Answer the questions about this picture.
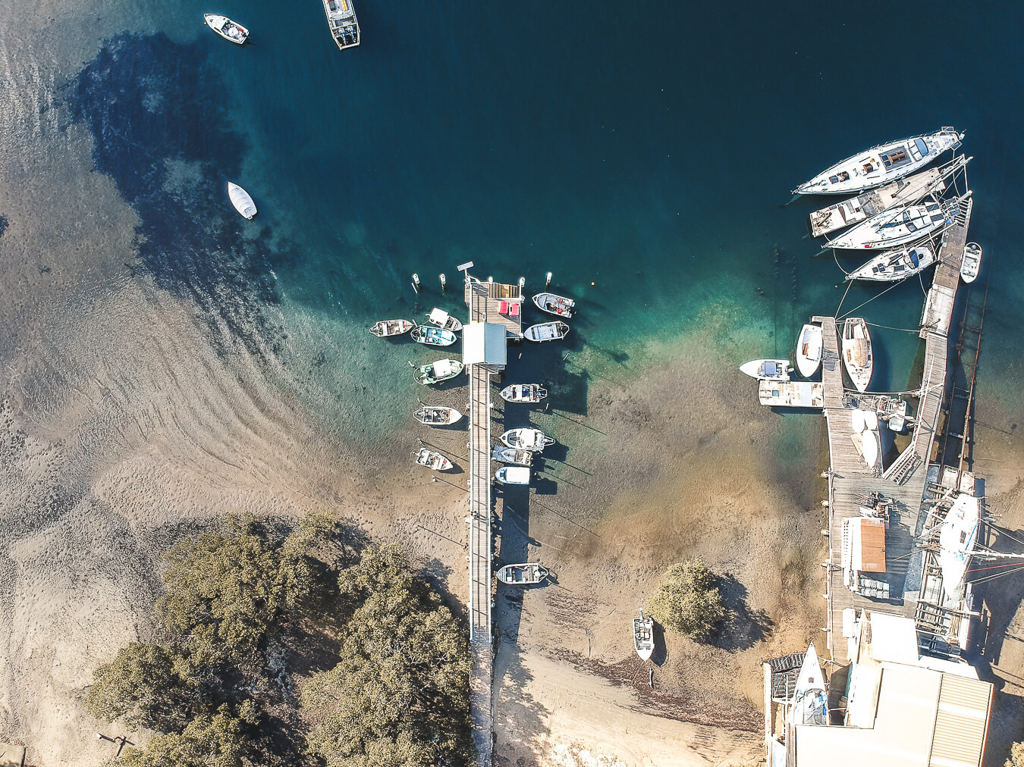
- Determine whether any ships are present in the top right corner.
Yes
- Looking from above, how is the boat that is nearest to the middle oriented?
from side to side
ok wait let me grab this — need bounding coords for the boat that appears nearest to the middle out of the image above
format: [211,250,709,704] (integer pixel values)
[500,384,553,404]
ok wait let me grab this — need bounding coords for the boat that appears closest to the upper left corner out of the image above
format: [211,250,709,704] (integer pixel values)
[204,12,254,48]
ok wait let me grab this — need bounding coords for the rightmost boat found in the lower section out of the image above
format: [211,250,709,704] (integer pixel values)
[933,491,1024,603]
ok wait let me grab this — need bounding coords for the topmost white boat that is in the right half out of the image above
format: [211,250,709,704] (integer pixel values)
[792,120,973,196]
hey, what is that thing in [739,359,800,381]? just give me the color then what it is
white boat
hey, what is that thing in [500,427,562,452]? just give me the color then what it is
white boat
